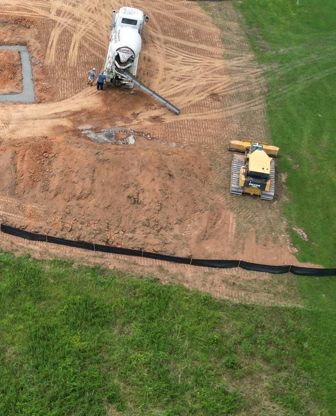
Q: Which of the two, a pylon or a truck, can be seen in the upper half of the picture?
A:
truck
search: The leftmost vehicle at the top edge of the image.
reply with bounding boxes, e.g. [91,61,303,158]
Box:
[107,3,181,116]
